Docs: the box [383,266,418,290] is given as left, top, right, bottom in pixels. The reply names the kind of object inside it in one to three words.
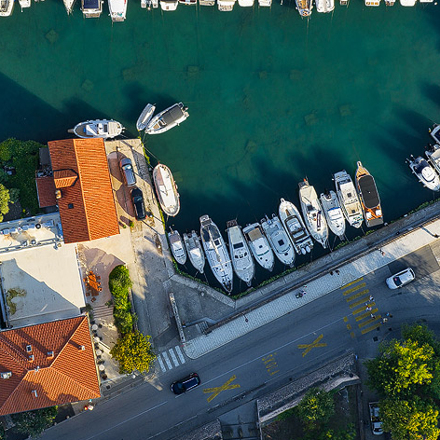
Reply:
car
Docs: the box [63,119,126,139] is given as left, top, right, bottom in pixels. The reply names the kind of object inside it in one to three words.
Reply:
boat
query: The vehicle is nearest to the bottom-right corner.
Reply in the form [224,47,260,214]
[369,401,385,435]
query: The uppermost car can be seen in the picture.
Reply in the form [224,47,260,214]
[119,157,138,187]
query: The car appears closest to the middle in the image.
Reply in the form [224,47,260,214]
[130,188,148,222]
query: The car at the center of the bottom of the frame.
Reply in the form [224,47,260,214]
[168,371,202,395]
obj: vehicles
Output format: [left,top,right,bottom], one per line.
[168,371,202,395]
[383,266,418,290]
[369,401,385,435]
[119,157,138,187]
[130,188,148,222]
